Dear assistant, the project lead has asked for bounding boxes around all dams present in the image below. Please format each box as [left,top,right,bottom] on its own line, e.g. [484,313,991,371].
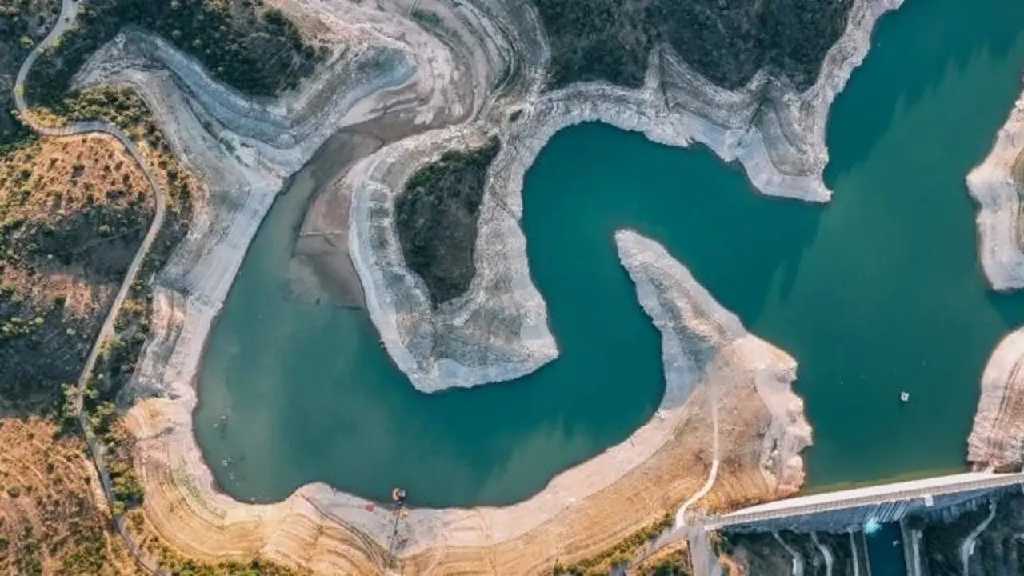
[697,473,1024,530]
